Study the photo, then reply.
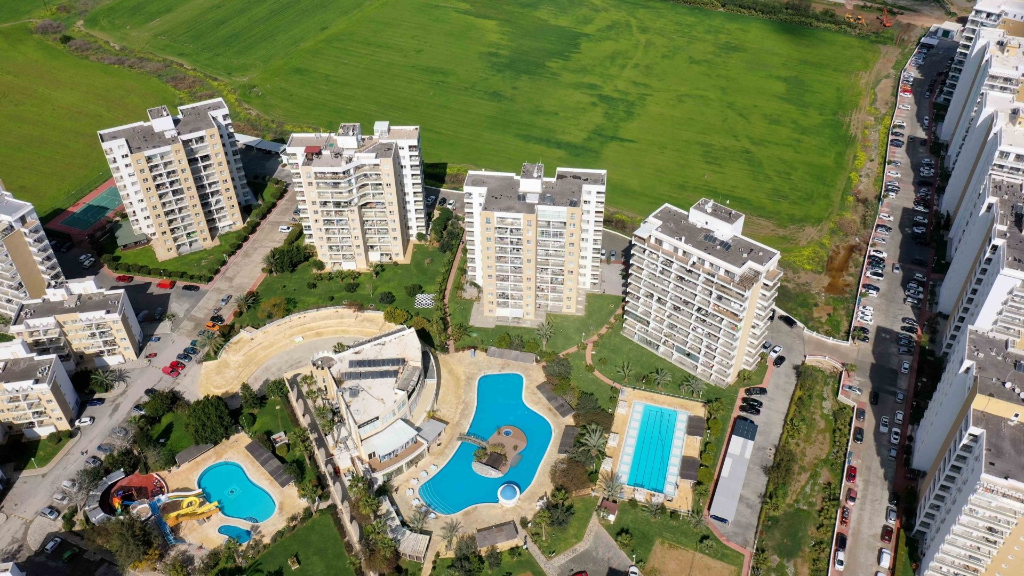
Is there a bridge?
Yes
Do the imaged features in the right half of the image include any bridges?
Yes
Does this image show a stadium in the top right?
No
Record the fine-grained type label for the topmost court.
tennis court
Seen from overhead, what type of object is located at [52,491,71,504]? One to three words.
vehicle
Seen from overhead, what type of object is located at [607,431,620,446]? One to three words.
gazebo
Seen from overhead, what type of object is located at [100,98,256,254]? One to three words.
building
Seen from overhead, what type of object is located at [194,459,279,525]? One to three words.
swimming pool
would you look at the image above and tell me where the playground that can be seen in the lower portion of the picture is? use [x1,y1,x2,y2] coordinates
[109,473,165,515]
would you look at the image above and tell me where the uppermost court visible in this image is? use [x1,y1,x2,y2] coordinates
[52,175,128,244]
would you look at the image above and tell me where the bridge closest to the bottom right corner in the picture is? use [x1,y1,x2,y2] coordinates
[804,329,849,373]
